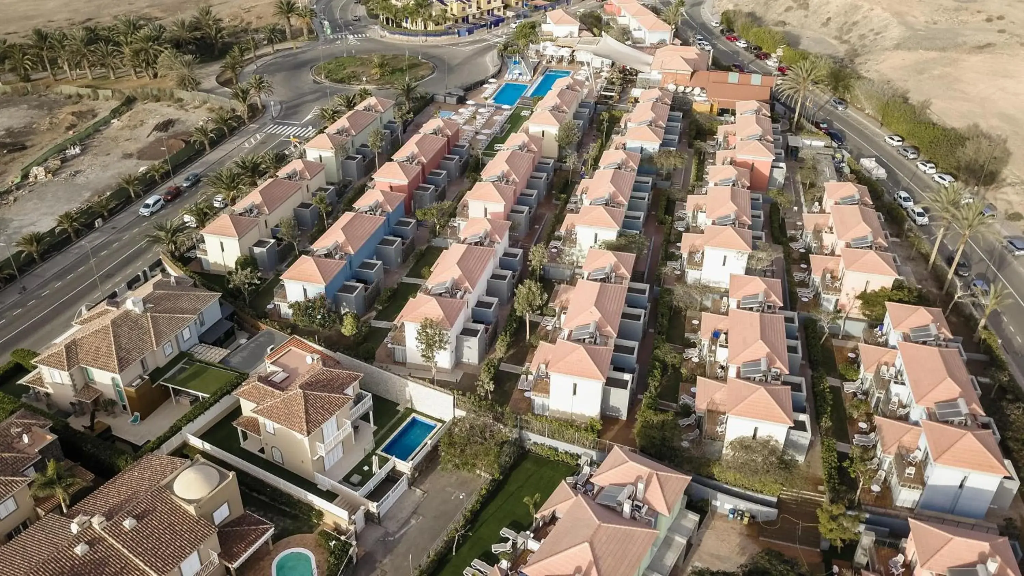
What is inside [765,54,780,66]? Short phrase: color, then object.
white vehicle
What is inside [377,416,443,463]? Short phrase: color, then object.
blue swimming pool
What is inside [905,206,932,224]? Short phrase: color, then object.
white car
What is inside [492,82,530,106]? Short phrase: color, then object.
blue swimming pool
